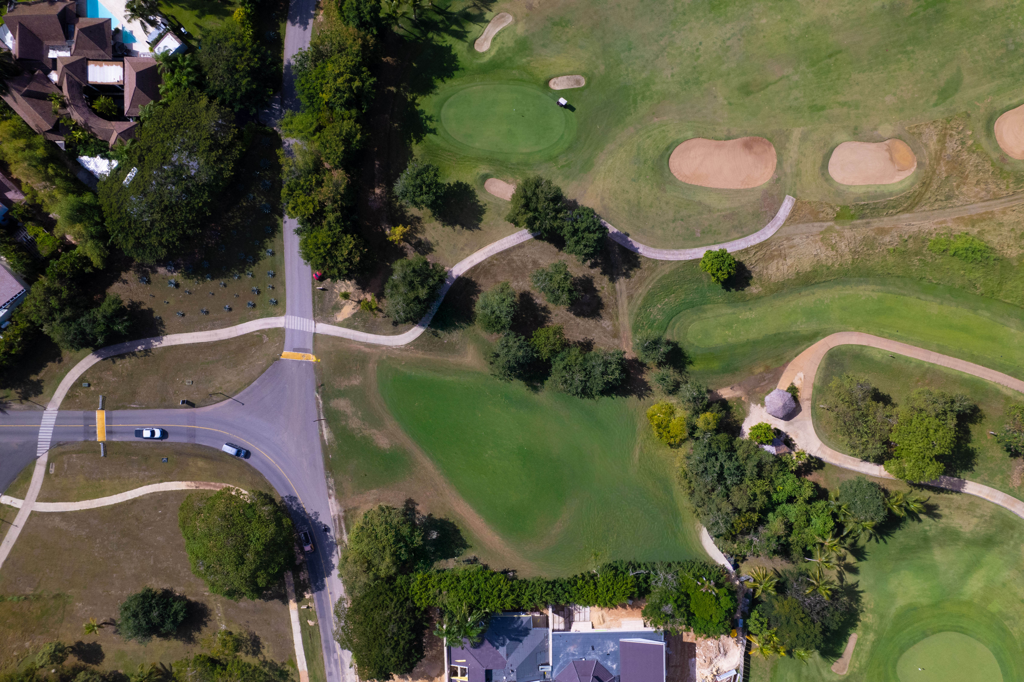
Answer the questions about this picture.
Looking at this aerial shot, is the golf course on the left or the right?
right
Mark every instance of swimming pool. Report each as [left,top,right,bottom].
[86,0,121,26]
[121,23,139,44]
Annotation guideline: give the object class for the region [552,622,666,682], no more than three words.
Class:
house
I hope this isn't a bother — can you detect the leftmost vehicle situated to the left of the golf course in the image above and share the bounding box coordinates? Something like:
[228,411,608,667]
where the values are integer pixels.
[134,428,164,440]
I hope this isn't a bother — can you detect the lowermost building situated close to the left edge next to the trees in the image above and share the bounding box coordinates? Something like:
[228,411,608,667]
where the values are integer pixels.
[0,264,31,320]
